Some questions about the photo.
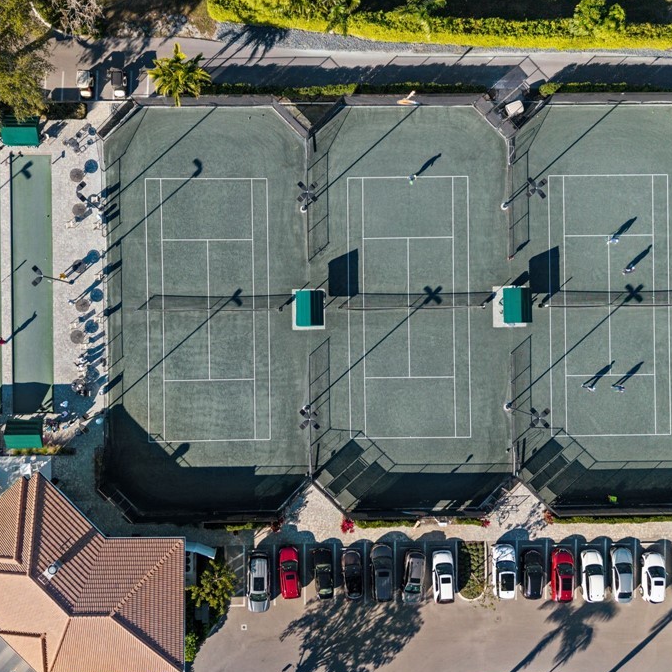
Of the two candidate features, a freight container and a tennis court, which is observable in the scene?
tennis court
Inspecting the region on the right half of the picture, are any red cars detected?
Yes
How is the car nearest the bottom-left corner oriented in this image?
up and down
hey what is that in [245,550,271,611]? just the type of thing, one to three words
car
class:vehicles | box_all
[431,548,456,603]
[638,551,666,603]
[503,99,527,125]
[109,70,127,101]
[578,548,606,602]
[607,546,635,602]
[311,546,335,599]
[76,71,95,102]
[340,548,364,599]
[549,547,576,602]
[401,548,426,602]
[245,550,271,611]
[520,547,546,598]
[277,545,302,599]
[490,542,518,599]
